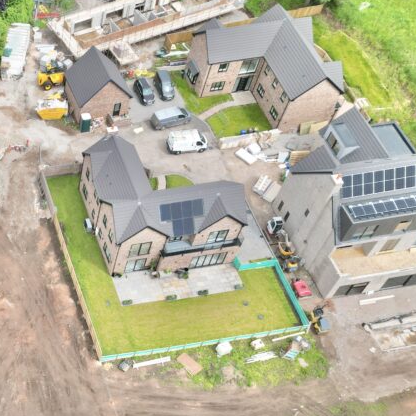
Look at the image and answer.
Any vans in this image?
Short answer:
Yes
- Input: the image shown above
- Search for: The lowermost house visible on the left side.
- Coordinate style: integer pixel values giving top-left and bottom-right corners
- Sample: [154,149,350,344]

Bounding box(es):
[80,142,252,275]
